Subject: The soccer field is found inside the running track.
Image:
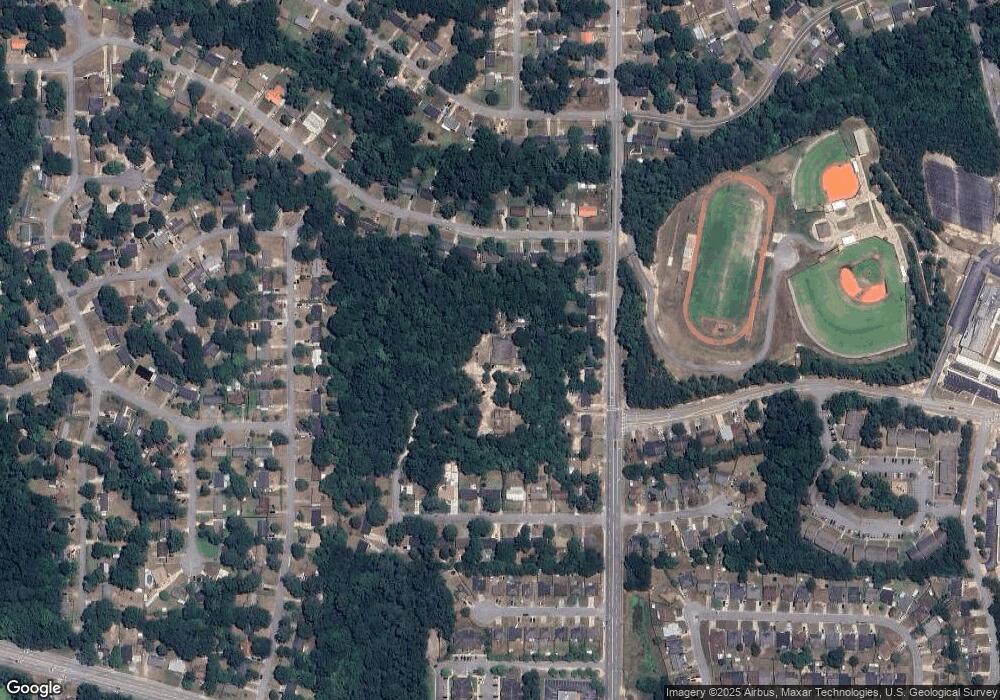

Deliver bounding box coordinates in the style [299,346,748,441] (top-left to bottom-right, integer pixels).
[692,180,763,314]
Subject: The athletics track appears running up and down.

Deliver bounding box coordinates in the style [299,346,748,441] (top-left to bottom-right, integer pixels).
[683,172,772,346]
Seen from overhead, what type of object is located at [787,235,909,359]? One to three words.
baseball field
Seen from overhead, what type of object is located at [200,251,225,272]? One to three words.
house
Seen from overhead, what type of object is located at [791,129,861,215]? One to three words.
baseball field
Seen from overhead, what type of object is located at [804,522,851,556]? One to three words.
building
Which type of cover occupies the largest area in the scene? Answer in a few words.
trees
